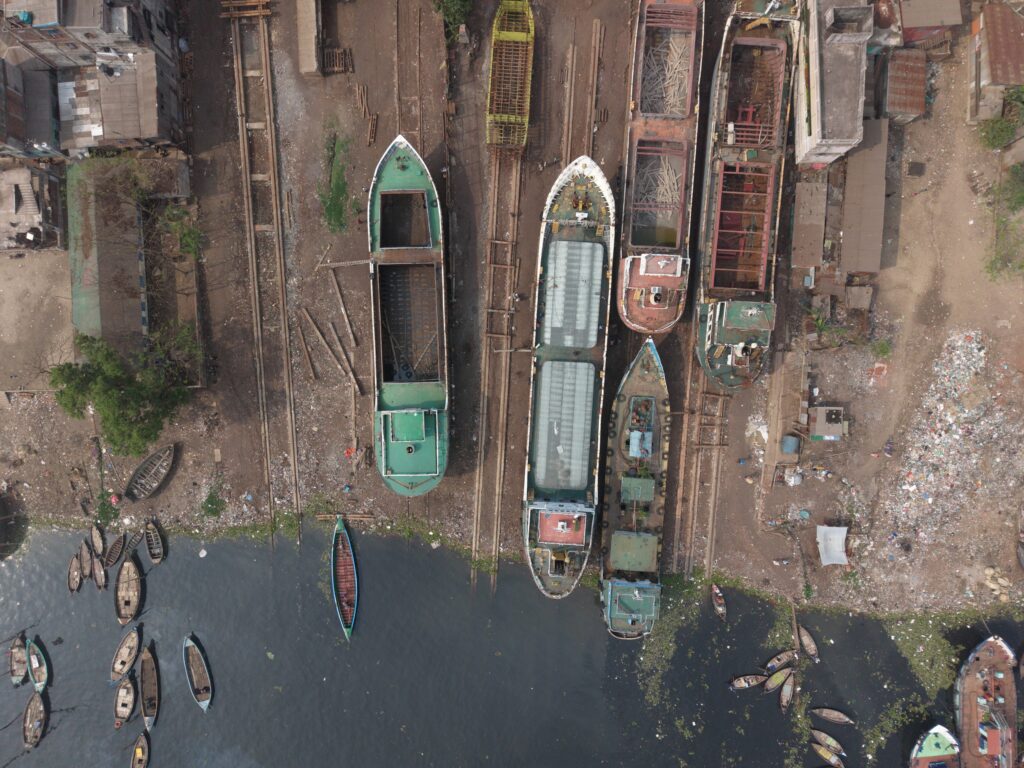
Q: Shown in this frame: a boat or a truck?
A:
boat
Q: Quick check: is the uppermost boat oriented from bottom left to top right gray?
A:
Yes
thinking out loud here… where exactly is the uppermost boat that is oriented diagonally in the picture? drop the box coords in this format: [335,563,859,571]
[125,445,175,503]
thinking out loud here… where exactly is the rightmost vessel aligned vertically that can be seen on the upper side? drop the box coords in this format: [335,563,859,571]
[692,0,799,388]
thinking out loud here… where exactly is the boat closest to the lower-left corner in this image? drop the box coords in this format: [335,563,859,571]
[21,693,46,752]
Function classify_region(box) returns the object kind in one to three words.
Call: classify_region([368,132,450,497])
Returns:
ship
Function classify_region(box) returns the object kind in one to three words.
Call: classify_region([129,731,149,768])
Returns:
boat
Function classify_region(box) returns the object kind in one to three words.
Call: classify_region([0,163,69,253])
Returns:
building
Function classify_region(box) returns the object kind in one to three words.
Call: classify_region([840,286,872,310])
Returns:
shed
